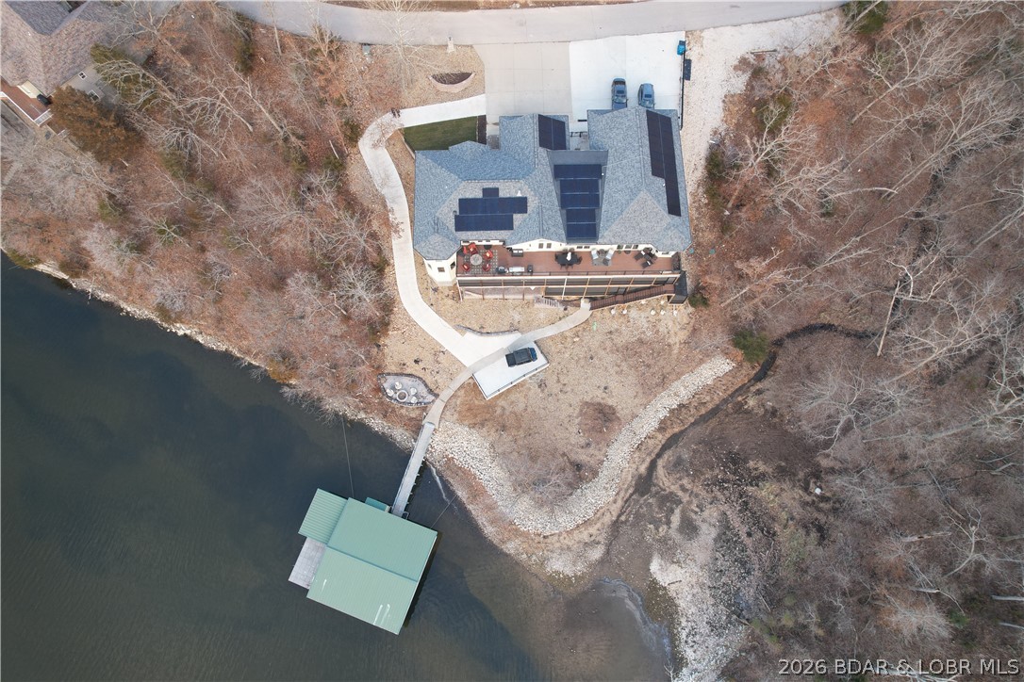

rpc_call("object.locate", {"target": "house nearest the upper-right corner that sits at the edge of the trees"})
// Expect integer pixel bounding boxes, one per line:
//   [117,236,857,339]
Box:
[413,106,691,314]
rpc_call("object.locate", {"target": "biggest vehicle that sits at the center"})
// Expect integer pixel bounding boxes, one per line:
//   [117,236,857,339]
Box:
[505,347,538,367]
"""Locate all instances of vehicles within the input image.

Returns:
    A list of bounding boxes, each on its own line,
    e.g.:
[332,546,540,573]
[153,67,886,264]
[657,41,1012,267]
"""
[638,80,659,110]
[505,347,538,367]
[611,76,630,110]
